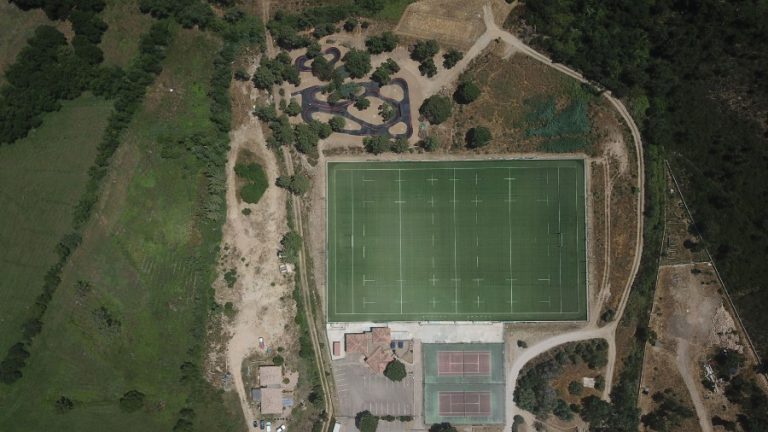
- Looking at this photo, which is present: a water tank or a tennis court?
tennis court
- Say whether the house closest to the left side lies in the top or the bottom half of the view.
bottom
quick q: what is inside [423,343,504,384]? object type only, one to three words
tennis court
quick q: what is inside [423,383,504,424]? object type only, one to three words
tennis court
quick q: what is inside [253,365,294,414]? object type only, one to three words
house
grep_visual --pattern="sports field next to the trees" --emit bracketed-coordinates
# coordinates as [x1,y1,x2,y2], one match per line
[327,158,589,323]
